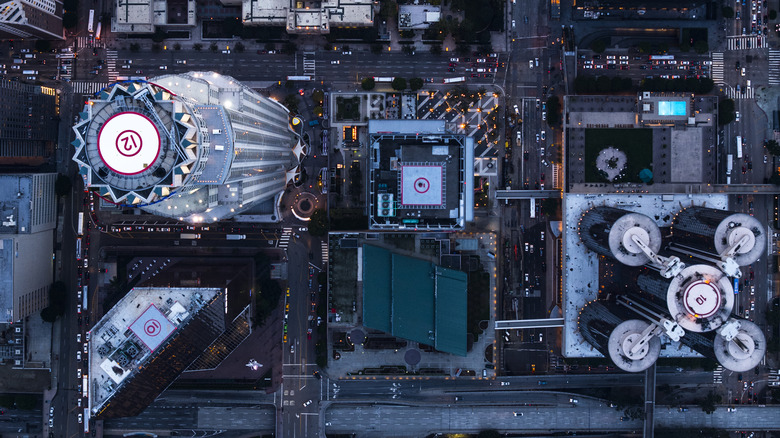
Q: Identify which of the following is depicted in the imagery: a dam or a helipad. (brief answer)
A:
helipad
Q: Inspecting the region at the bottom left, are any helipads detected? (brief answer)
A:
Yes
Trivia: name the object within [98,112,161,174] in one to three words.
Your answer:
helipad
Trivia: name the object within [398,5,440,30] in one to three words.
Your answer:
building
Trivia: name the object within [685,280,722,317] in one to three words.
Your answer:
helipad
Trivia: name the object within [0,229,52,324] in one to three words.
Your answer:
building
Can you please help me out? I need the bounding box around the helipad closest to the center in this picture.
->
[397,161,447,209]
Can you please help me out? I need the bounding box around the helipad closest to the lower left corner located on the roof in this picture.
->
[128,302,178,353]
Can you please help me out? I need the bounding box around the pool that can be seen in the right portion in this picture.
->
[659,101,686,116]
